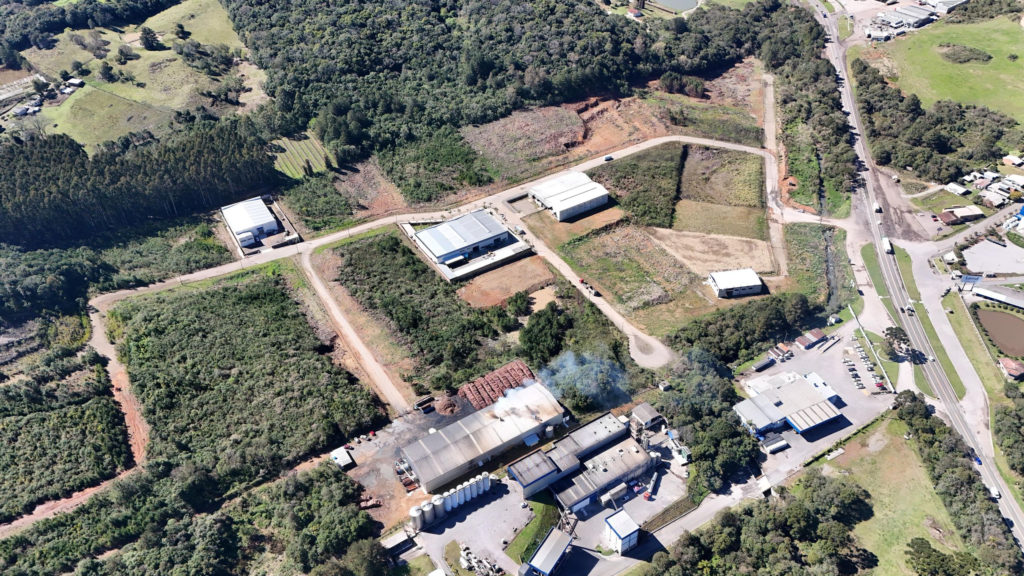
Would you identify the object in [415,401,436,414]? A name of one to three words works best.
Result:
vehicle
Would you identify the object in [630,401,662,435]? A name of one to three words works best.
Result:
building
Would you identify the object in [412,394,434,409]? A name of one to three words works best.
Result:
vehicle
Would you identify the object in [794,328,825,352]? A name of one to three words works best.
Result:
shed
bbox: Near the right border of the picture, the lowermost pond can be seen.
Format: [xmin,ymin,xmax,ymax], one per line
[978,310,1024,356]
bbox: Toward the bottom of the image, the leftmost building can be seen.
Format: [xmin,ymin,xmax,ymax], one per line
[330,445,353,467]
